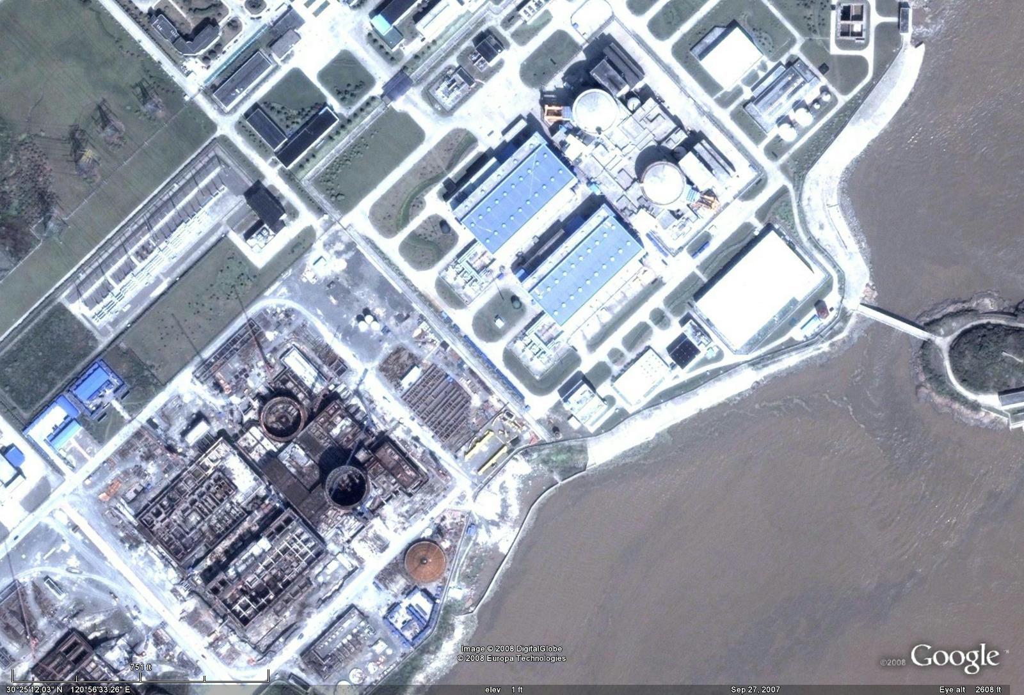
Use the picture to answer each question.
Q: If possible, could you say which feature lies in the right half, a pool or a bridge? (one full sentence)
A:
You can see a bridge in the right half.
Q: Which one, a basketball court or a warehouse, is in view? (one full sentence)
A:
The image shows a warehouse.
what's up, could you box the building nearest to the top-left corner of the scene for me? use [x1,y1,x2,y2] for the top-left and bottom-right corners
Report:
[152,15,180,45]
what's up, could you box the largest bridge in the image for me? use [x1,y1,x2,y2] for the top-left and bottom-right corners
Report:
[856,302,935,342]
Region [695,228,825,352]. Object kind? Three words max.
warehouse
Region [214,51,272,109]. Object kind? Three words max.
building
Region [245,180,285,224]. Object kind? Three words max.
house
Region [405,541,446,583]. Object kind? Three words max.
storage tank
